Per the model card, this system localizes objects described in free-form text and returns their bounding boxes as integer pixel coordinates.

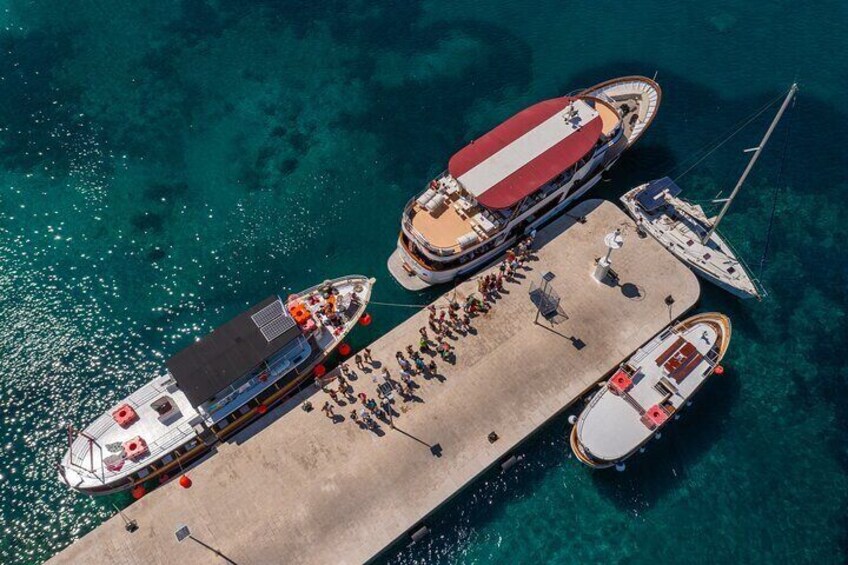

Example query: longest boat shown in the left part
[55,275,378,498]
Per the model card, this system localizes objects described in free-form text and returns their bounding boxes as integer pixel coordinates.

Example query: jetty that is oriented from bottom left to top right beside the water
[44,200,700,565]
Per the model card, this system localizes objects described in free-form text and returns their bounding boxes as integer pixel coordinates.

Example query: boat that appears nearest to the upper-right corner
[620,75,803,302]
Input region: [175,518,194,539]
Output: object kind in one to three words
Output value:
solar panel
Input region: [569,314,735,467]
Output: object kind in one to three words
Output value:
boat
